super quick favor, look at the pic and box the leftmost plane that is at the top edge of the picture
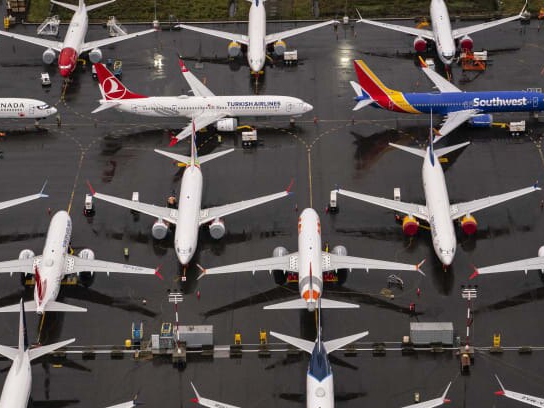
[0,0,163,82]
